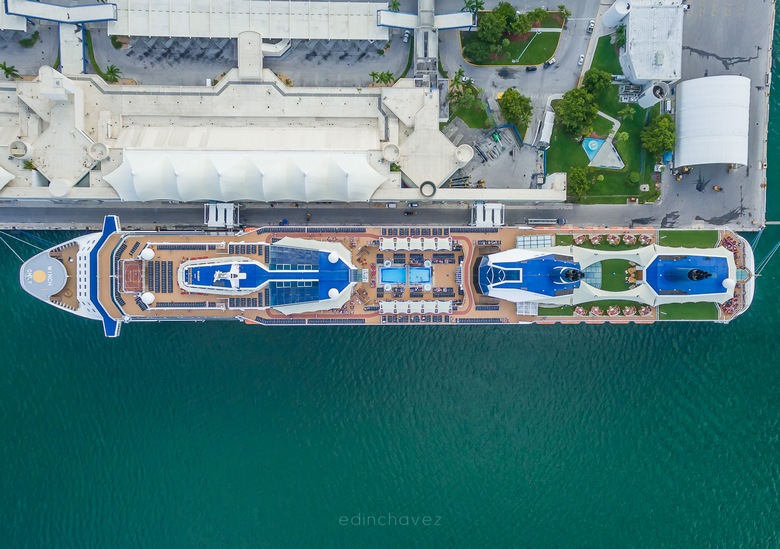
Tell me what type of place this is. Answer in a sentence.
This looks like a port.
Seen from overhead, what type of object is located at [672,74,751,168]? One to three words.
hangar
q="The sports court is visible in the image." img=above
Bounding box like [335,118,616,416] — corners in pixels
[117,260,145,292]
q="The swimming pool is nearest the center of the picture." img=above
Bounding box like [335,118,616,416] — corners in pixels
[381,267,406,284]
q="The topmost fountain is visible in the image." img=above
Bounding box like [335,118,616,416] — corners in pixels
[582,139,606,161]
